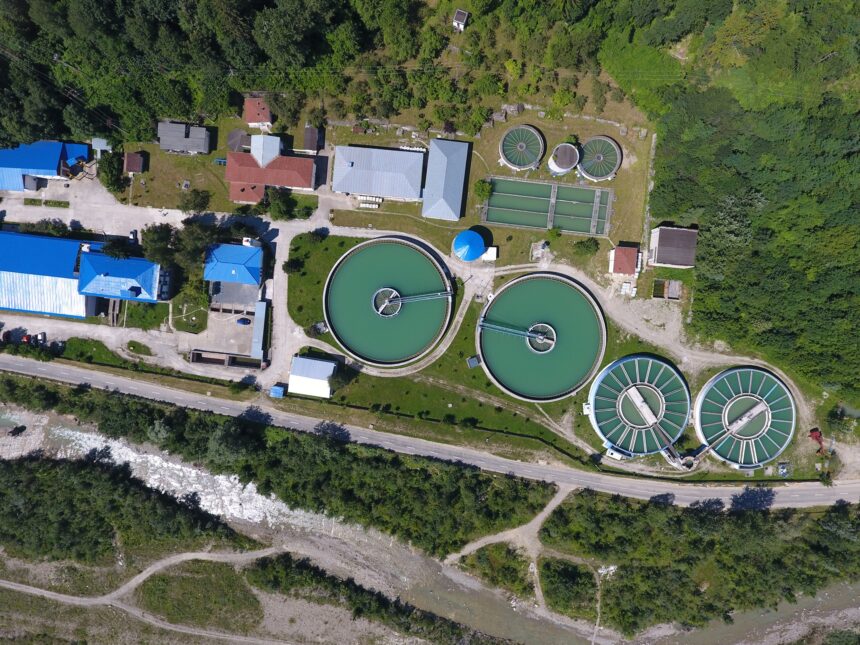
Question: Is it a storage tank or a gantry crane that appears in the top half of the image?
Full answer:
The one visible in the top half of the image is a storage tank.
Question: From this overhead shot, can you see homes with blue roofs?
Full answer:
Yes, there's a home with a blue roof here.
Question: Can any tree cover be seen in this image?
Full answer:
Yes, tree cover can be seen from above here.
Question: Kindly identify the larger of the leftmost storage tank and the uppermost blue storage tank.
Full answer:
The larger object is the leftmost storage tank, with the uppermost blue storage tank being the smaller of the pair.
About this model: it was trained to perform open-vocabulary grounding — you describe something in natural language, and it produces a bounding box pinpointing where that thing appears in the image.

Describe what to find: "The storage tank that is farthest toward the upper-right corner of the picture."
[571,135,622,186]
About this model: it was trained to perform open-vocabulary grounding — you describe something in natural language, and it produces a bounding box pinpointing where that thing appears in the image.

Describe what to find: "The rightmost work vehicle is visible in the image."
[810,427,829,454]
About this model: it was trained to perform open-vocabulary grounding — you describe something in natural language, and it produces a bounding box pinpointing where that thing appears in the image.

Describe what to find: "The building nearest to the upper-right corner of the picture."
[649,225,699,270]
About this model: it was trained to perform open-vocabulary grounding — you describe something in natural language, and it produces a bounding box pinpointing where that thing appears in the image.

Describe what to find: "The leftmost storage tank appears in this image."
[322,237,454,368]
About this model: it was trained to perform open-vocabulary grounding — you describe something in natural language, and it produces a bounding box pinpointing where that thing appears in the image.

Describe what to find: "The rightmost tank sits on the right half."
[691,367,795,466]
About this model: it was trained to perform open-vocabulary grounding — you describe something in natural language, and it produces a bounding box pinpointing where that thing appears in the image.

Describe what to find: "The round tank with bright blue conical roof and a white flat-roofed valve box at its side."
[453,230,496,262]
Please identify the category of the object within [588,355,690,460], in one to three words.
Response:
storage tank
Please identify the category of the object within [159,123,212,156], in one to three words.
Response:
house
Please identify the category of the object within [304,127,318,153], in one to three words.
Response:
shed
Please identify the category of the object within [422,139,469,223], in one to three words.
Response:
building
